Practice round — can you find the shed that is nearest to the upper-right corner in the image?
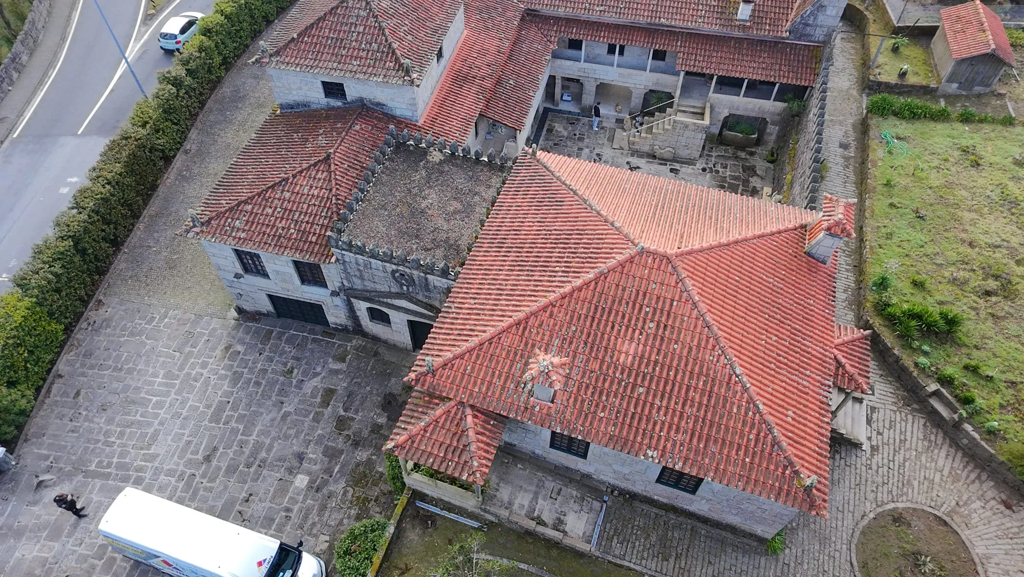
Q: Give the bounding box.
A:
[929,0,1023,103]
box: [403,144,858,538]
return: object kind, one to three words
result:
house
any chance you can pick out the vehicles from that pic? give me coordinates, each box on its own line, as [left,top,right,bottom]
[156,12,210,51]
[101,492,332,577]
